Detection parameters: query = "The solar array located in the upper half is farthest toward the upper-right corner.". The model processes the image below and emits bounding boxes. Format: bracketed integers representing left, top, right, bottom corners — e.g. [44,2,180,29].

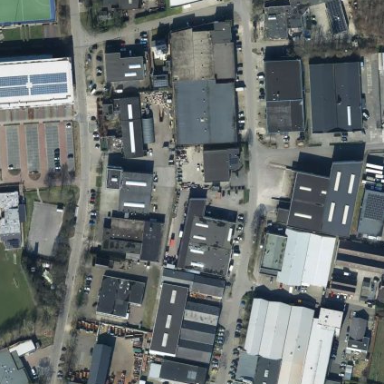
[327,1,347,32]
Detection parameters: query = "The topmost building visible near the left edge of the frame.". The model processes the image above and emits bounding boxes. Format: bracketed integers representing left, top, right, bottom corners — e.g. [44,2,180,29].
[0,58,74,112]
